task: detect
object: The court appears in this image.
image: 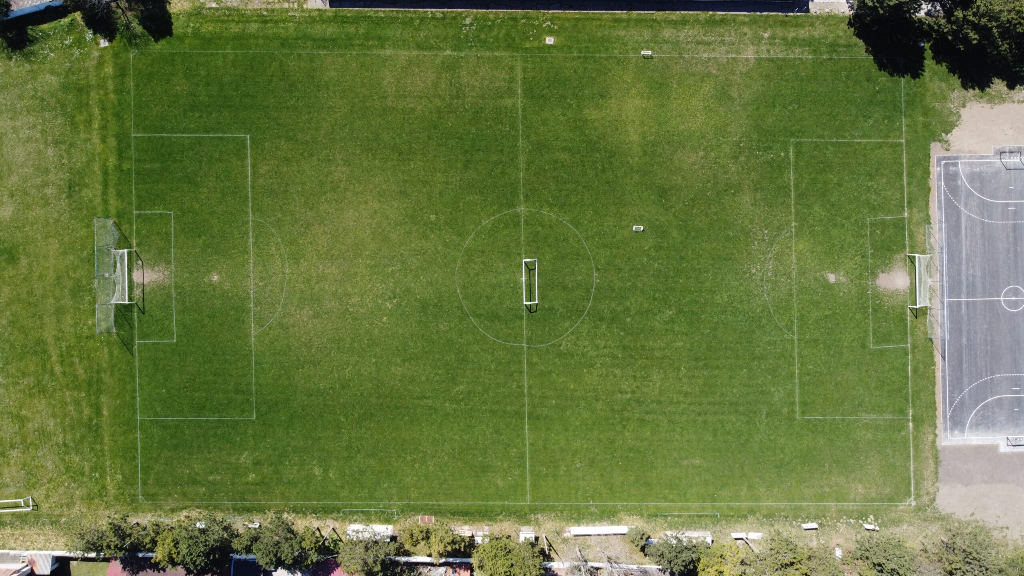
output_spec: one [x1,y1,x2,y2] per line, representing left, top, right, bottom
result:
[936,144,1024,453]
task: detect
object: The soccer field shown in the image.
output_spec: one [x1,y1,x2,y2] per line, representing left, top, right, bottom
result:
[131,51,912,518]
